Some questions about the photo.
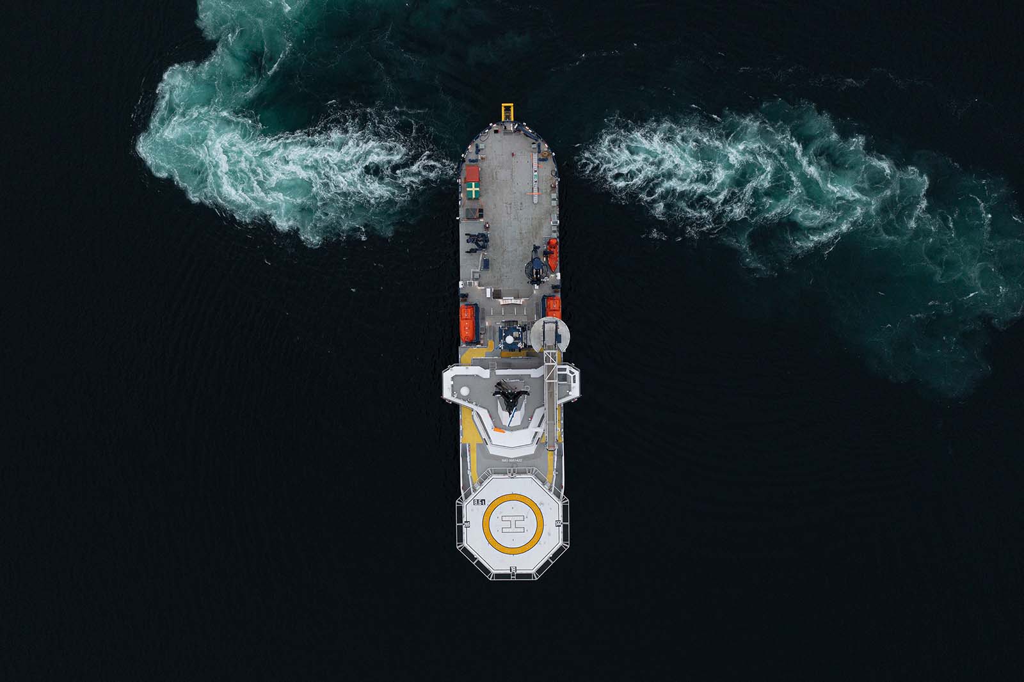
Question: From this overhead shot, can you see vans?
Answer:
No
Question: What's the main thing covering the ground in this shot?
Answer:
water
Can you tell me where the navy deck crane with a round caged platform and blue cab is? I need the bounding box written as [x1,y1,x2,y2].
[525,245,549,294]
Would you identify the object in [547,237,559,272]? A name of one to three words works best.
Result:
boat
